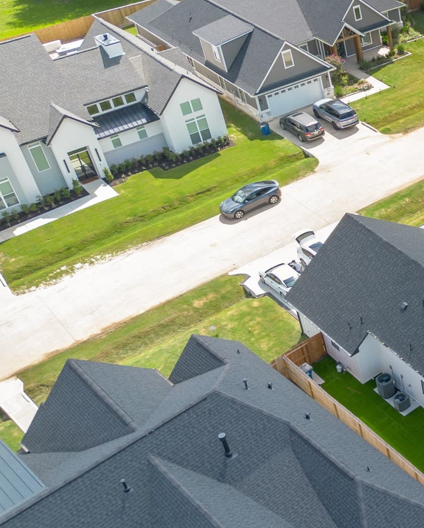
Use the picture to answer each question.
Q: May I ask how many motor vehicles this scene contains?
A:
5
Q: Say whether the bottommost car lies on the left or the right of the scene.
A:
right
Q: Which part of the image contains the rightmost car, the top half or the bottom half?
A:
top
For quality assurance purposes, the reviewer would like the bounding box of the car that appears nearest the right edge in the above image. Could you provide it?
[312,100,358,129]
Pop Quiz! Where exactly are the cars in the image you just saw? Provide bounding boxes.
[214,179,281,219]
[278,110,327,140]
[257,259,302,299]
[312,100,358,129]
[294,225,328,265]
